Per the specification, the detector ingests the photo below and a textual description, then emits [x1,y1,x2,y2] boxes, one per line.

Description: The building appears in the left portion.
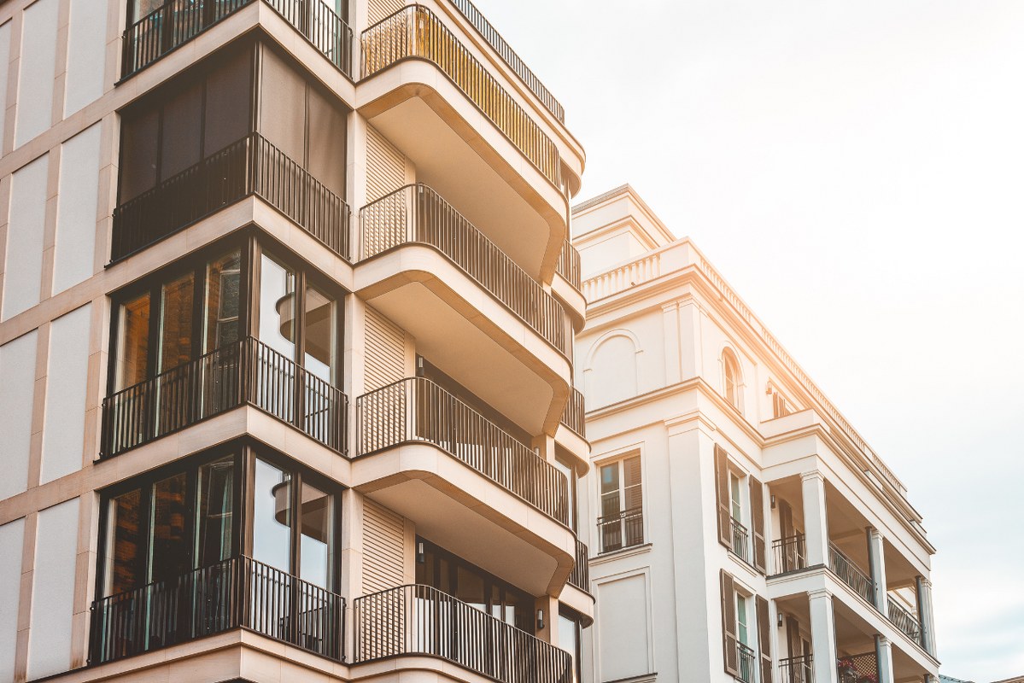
[0,0,594,683]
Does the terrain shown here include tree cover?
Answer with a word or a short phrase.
No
